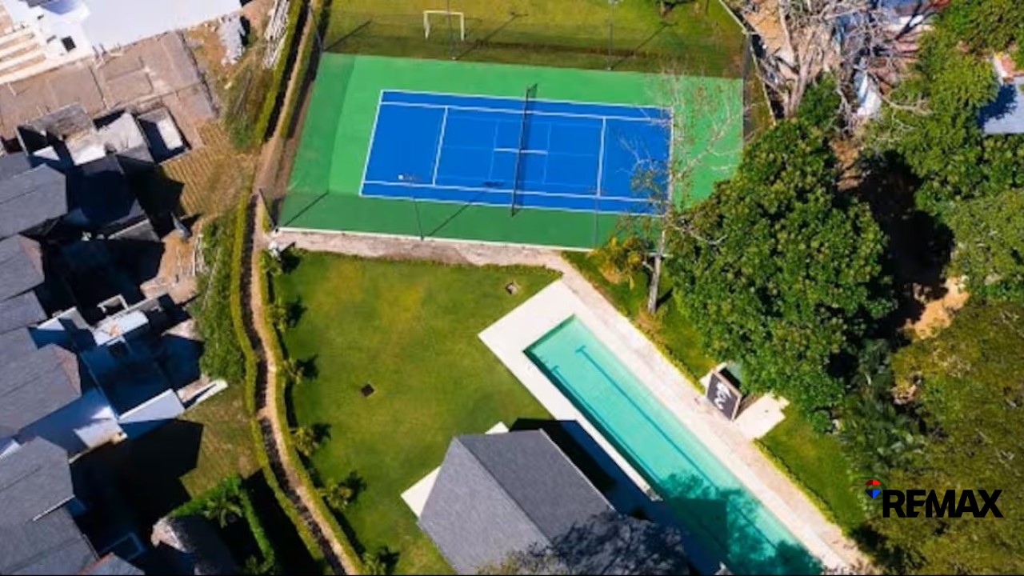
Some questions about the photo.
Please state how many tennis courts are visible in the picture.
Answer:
one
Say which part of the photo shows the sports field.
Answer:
top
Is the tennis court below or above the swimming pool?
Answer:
above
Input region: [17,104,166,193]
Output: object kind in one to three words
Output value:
house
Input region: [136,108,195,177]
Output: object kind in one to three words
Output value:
shed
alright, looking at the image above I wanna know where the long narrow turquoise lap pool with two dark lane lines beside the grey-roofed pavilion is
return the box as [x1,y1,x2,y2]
[527,315,828,576]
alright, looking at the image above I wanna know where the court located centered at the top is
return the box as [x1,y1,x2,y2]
[272,53,748,260]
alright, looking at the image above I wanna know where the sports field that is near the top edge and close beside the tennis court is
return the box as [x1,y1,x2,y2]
[329,0,748,76]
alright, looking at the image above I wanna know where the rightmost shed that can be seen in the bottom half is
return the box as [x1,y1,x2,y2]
[707,372,755,420]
